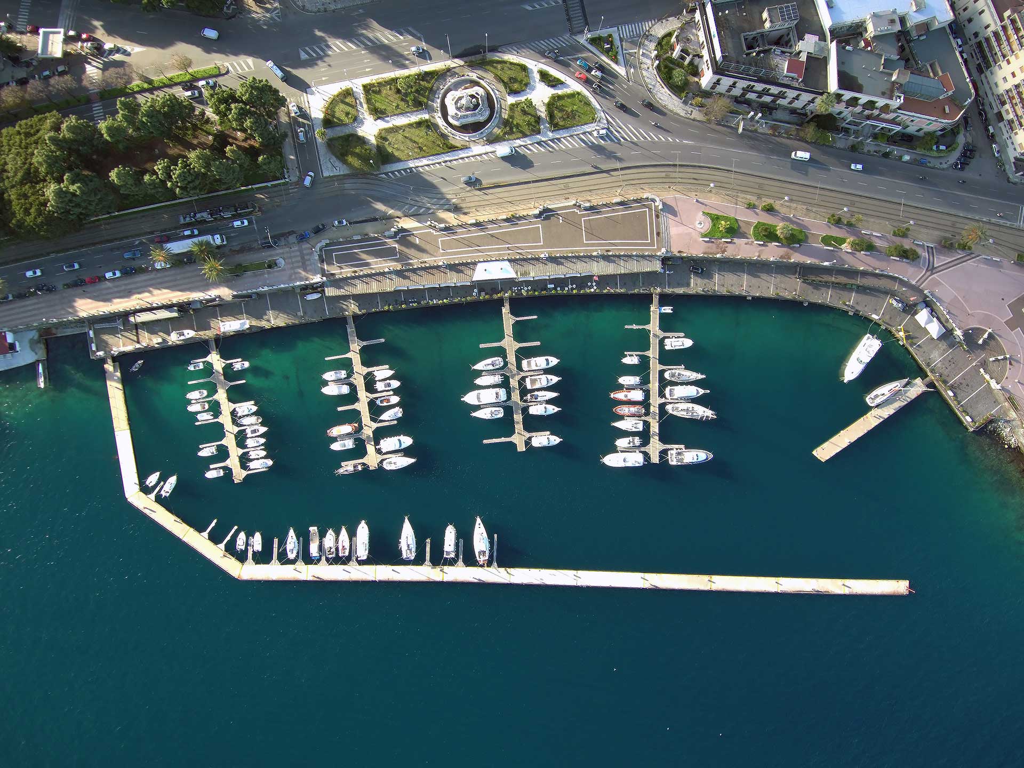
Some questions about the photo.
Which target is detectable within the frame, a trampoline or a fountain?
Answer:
fountain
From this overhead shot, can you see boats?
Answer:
Yes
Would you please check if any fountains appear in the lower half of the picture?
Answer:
No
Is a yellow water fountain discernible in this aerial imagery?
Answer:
No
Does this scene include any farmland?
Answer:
No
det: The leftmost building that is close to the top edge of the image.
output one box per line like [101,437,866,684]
[37,28,73,64]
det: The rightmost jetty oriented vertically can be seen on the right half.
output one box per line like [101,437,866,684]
[616,293,692,463]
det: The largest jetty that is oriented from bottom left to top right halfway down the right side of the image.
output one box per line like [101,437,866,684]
[811,378,930,462]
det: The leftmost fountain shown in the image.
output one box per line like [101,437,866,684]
[432,70,503,142]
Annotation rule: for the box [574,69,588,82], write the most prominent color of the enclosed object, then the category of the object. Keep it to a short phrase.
red vehicle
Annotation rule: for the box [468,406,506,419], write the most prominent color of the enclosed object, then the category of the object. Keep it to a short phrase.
white boat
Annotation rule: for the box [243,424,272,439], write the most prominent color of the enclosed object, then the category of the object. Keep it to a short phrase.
white boat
